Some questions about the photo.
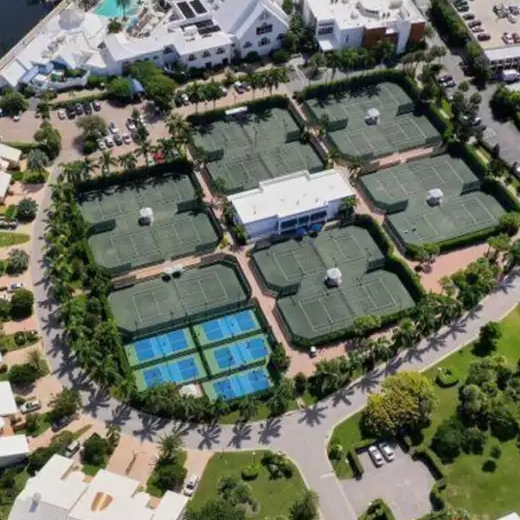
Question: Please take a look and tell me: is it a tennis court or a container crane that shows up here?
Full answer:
I can see a tennis court in this picture.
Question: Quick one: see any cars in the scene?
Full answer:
Yes, you can see a car in this photo.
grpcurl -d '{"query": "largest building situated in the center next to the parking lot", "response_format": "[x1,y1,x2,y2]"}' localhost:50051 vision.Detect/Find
[226,169,355,246]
